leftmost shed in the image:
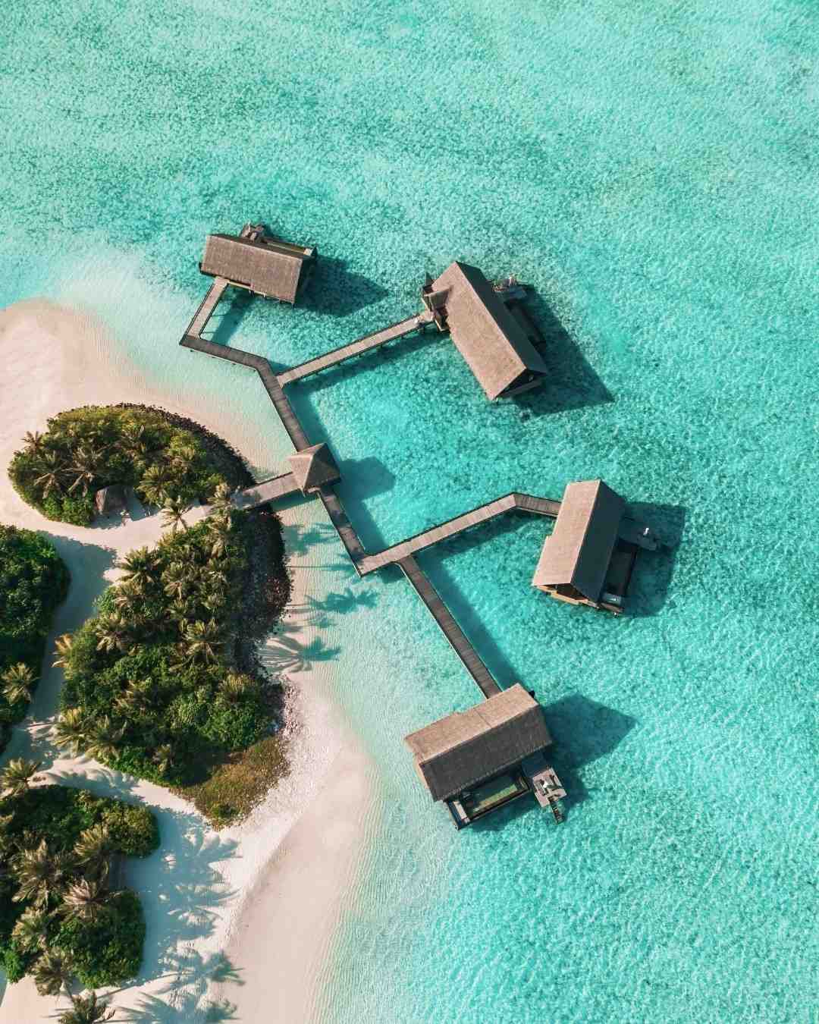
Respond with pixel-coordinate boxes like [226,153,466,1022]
[96,485,124,518]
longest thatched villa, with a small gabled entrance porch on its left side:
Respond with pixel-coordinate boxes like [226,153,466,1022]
[417,261,559,407]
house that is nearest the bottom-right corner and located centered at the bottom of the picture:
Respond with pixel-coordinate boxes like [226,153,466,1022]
[405,685,568,832]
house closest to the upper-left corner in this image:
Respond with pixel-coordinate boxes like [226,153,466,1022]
[203,220,321,313]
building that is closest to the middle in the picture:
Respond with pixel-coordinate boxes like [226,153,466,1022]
[289,443,340,502]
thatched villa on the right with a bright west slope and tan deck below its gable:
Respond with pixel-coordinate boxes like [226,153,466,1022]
[532,479,667,616]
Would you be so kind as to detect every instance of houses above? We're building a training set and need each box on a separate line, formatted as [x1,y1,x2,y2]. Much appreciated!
[203,220,321,313]
[405,685,568,832]
[532,479,667,616]
[417,261,559,407]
